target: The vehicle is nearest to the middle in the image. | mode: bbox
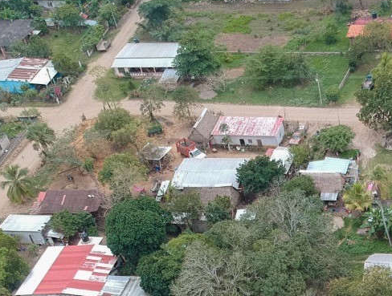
[171,129,207,155]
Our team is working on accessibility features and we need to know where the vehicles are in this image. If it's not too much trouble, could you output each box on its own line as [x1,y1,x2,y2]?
[282,124,306,145]
[171,129,207,155]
